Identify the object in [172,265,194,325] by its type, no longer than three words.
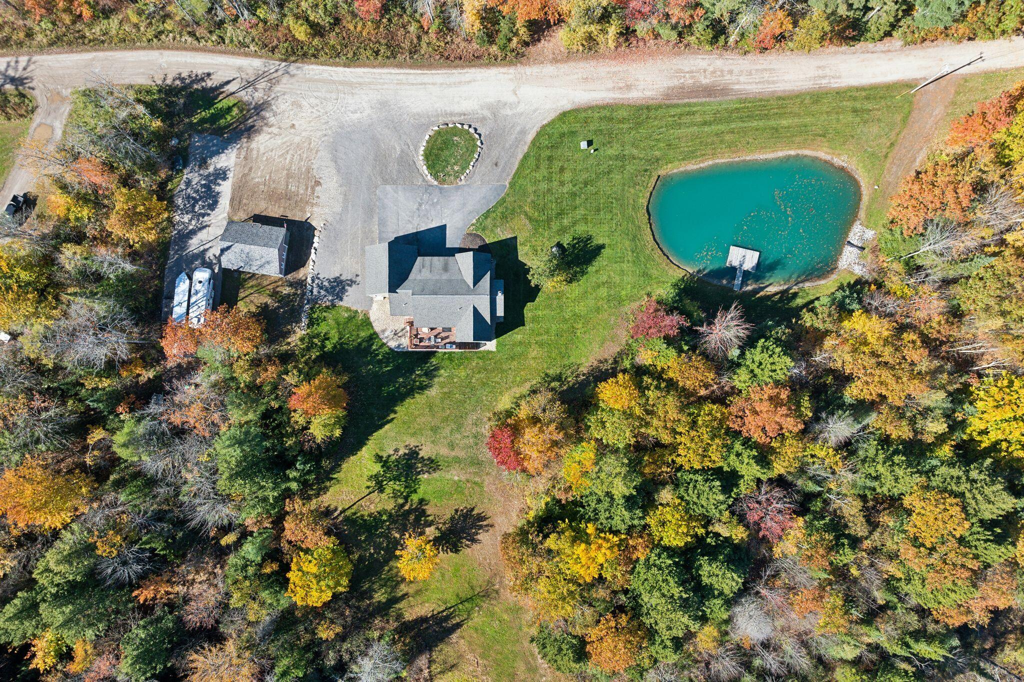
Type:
trailer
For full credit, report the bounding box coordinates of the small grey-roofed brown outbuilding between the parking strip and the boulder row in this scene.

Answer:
[219,220,290,275]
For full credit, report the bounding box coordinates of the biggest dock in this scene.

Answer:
[726,246,759,272]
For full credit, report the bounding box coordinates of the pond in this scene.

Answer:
[651,157,858,286]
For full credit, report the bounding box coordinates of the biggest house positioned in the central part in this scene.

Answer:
[364,243,504,341]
